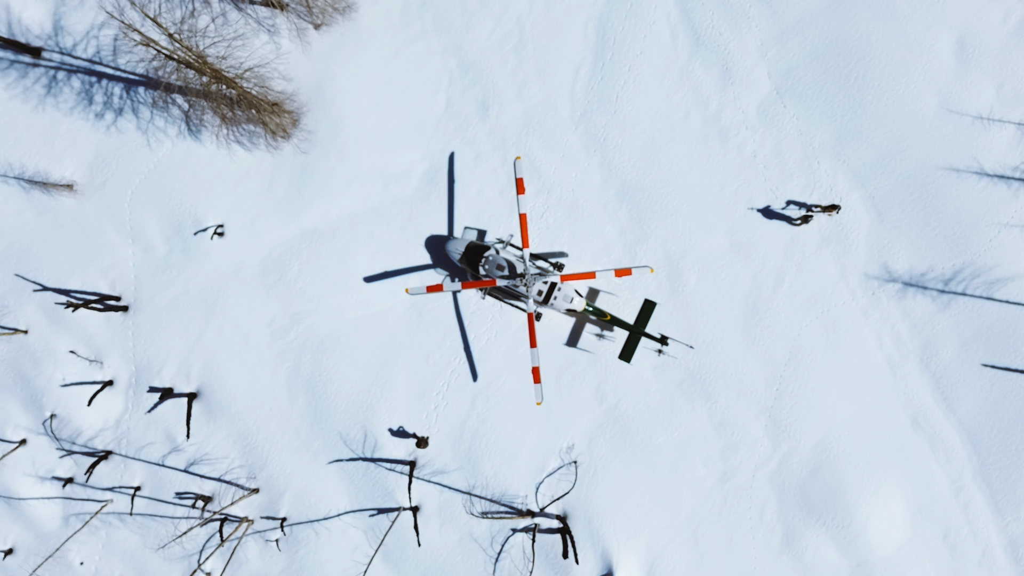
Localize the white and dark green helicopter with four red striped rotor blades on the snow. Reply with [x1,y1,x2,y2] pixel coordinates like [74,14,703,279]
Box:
[406,158,694,403]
